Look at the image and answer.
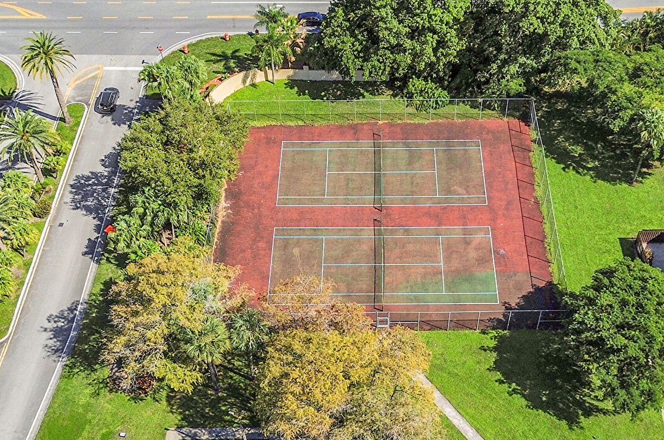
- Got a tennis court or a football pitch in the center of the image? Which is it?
tennis court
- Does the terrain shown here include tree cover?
Yes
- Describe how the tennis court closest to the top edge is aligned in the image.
from side to side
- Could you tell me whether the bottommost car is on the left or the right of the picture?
left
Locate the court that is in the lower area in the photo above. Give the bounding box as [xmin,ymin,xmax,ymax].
[269,227,498,304]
